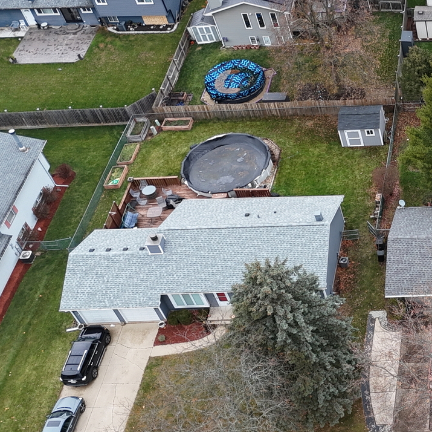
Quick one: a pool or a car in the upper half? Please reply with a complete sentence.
The feature located in the upper half is a pool.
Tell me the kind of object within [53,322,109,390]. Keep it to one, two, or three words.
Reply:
car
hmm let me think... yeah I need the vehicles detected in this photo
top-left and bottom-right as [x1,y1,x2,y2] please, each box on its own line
[39,395,86,432]
[53,322,109,390]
